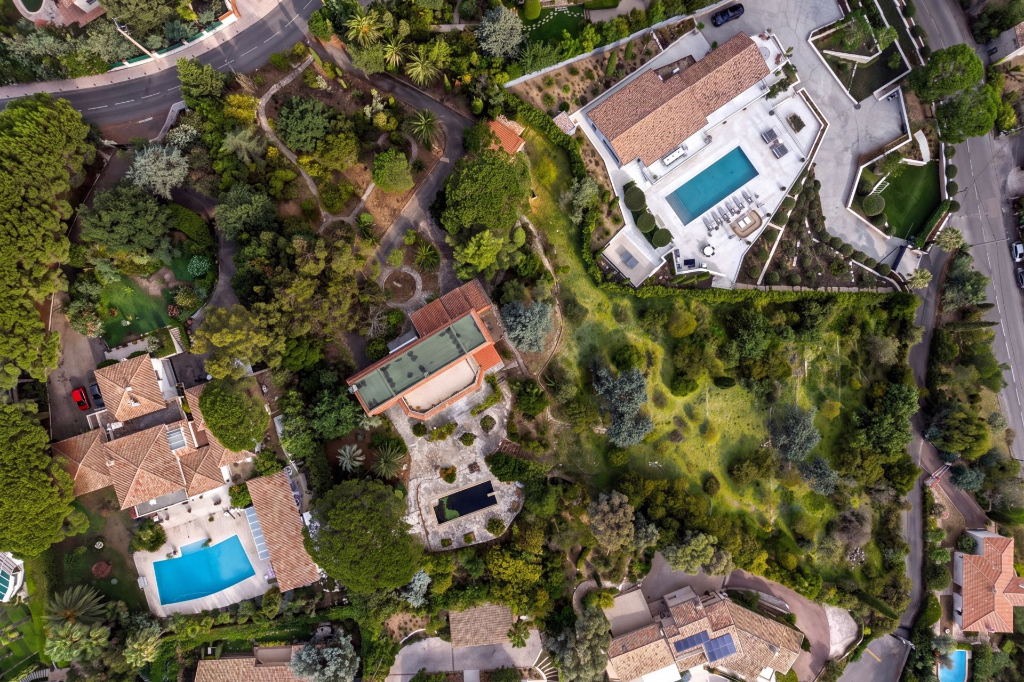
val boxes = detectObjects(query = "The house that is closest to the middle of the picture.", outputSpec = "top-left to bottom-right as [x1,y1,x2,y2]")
[347,278,505,420]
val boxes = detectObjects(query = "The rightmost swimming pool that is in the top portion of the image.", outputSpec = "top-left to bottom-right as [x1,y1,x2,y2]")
[661,141,763,230]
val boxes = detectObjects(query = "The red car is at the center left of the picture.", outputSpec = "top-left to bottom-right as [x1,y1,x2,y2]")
[72,386,92,411]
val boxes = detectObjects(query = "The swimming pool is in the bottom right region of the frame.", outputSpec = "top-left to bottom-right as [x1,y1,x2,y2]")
[938,648,968,682]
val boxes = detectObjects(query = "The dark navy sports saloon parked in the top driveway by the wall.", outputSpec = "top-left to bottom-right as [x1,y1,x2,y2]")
[710,3,745,27]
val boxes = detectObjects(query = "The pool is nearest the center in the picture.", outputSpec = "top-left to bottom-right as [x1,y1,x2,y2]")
[431,478,501,527]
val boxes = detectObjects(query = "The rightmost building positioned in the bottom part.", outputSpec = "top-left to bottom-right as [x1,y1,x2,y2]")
[949,527,1024,633]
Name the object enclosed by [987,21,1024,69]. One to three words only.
house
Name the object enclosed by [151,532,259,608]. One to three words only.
swimming pool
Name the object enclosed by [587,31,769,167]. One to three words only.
house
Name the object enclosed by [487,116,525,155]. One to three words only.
shed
